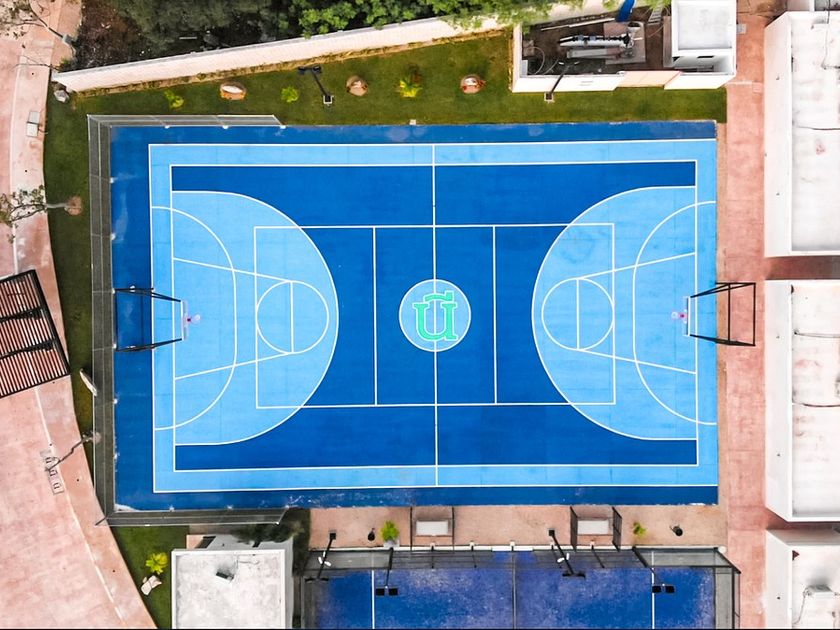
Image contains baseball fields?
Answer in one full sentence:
No, no baseball field is visible in the scene.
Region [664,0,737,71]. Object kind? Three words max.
shed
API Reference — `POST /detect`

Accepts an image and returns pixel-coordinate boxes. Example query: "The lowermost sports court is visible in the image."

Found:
[304,541,742,630]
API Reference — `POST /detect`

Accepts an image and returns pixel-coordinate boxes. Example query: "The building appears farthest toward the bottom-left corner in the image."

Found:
[172,535,293,630]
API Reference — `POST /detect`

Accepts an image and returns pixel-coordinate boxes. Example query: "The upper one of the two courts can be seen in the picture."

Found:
[112,121,718,509]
